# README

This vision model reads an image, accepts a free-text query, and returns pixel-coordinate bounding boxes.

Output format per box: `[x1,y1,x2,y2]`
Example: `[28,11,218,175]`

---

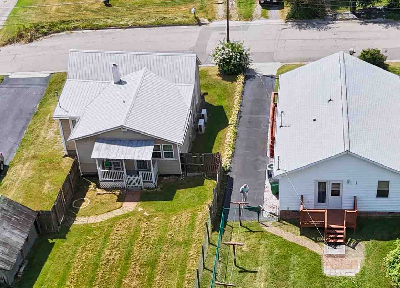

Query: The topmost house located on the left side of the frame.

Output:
[48,49,214,194]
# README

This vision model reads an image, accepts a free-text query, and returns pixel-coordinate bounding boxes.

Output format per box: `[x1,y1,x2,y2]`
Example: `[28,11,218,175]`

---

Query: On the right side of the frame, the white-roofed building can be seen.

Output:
[273,52,400,219]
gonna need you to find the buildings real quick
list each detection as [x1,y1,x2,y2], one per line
[273,52,400,219]
[48,49,214,194]
[0,187,39,286]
